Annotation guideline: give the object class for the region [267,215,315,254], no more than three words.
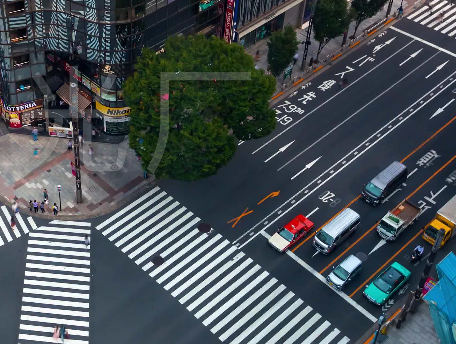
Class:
car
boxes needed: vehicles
[267,215,315,254]
[311,206,362,254]
[410,248,424,266]
[320,251,369,295]
[419,191,456,249]
[361,262,413,308]
[359,157,410,204]
[372,198,427,244]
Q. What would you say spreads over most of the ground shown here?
paved ground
